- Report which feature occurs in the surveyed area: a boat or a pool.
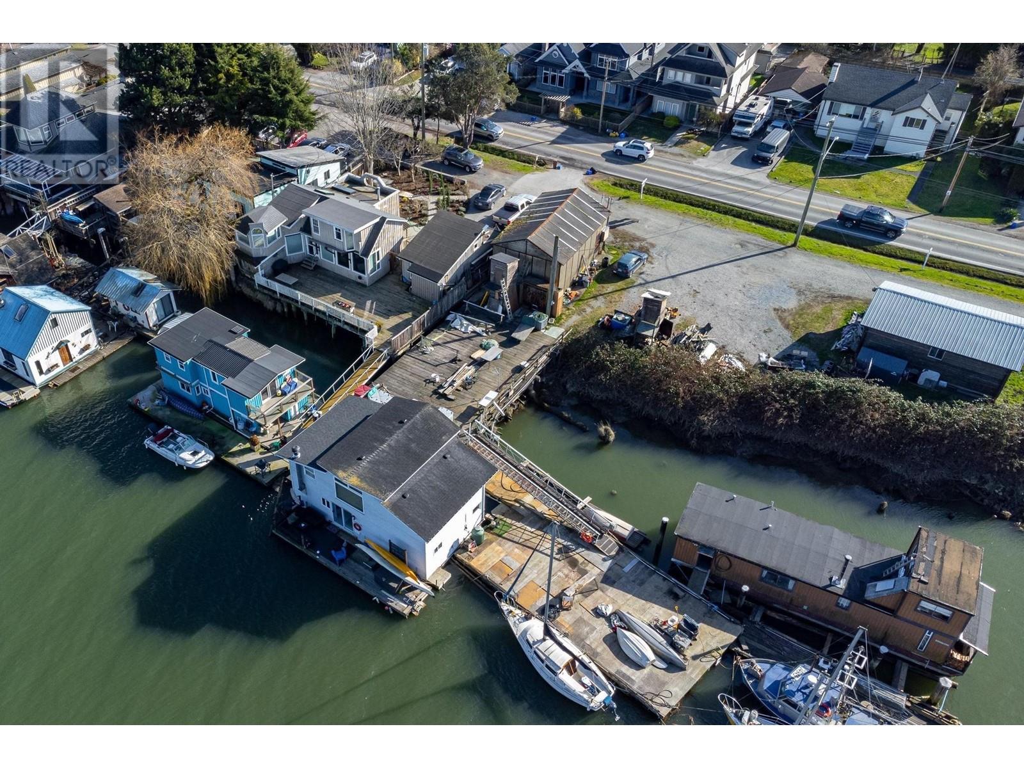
boat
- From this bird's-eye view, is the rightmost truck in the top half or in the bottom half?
top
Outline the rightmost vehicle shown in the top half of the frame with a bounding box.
[841,205,905,237]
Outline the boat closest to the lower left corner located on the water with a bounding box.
[138,426,213,467]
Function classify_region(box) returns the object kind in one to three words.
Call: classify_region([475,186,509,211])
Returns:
car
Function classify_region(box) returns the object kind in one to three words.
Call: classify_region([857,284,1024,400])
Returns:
barn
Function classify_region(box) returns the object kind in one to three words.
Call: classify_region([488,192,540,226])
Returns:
truck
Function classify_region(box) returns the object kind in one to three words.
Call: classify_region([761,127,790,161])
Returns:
van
